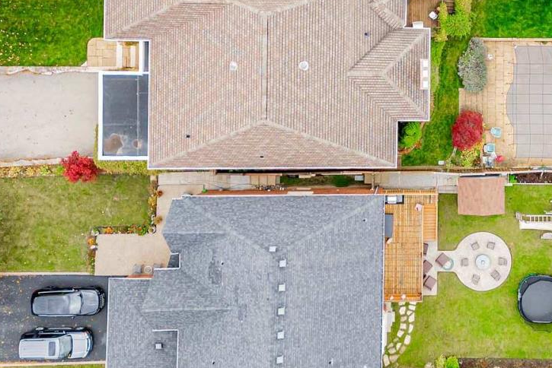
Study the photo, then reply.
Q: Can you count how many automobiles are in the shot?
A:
2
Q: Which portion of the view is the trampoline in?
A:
bottom right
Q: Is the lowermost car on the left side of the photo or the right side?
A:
left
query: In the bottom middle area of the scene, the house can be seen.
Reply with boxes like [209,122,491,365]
[106,188,384,368]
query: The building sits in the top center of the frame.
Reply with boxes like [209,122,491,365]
[99,0,432,170]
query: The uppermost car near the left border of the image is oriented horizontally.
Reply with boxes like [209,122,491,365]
[27,283,107,322]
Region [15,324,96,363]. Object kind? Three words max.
car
